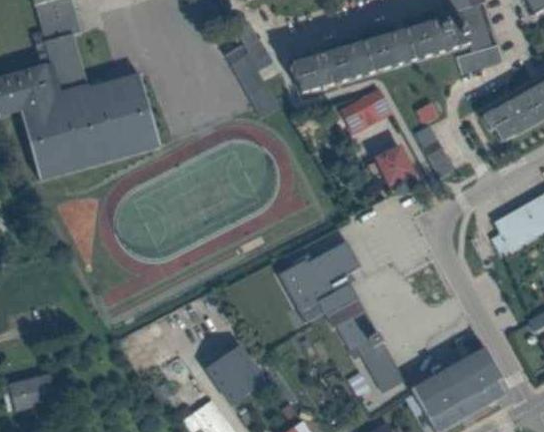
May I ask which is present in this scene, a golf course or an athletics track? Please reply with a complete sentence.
I can see an athletics track in this picture.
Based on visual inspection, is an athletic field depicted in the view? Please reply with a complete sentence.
Yes, this view includes an athletic field.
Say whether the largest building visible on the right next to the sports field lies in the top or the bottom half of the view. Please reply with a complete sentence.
It is in the top half that the largest building visible on the right next to the sports field appears.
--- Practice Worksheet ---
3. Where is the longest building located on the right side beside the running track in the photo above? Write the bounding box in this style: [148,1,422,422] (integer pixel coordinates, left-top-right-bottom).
[291,15,469,96]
